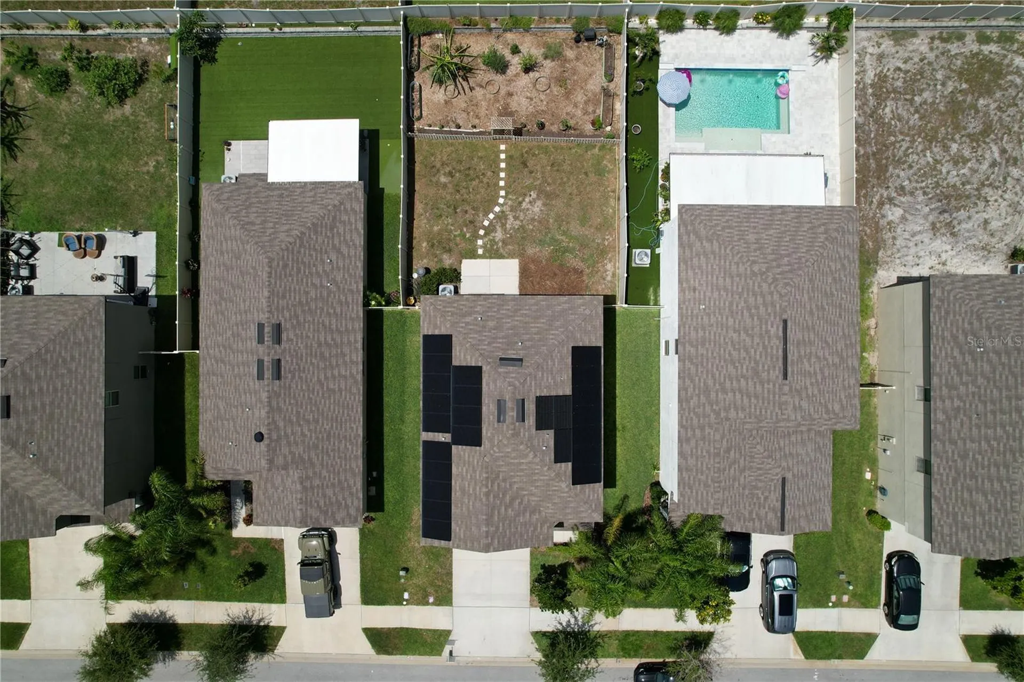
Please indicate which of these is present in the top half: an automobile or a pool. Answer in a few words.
pool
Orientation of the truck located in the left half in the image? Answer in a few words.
from top to bottom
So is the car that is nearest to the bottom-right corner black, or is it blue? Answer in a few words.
black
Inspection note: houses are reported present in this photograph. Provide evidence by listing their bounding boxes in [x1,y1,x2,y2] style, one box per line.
[419,294,604,554]
[199,118,367,529]
[656,153,860,537]
[877,273,1024,561]
[0,295,154,542]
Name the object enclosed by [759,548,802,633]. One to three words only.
car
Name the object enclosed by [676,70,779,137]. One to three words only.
swimming pool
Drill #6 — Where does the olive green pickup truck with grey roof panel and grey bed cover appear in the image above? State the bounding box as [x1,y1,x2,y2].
[293,528,336,616]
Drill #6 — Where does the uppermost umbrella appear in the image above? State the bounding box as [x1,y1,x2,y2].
[657,72,690,105]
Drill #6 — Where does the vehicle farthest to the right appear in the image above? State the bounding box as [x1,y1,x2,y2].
[882,549,925,629]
